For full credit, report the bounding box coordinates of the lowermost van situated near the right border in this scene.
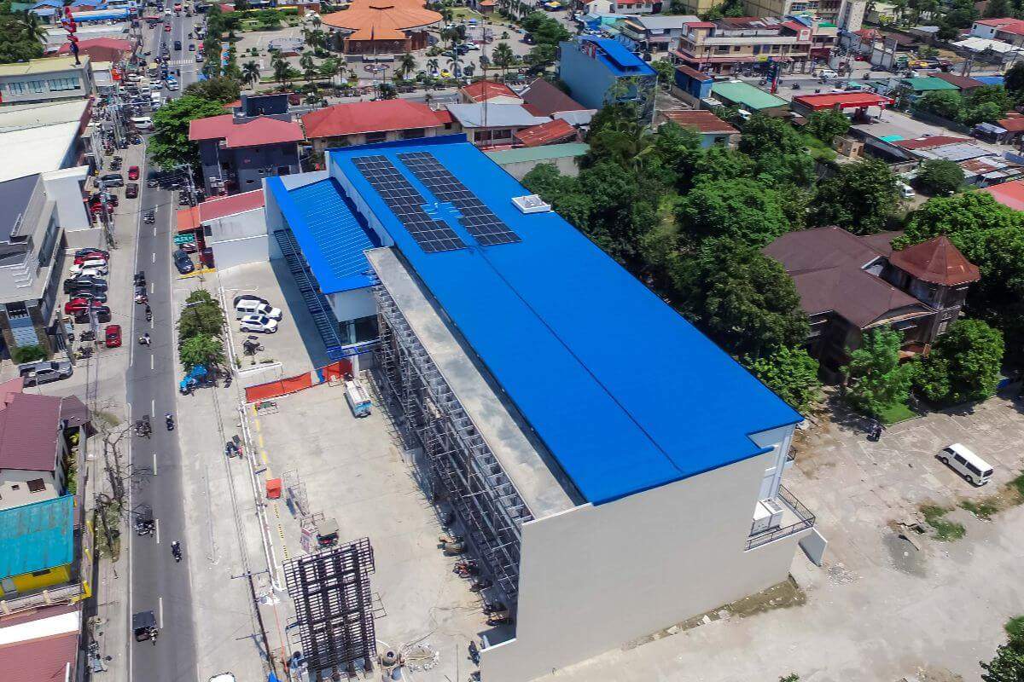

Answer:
[936,448,994,485]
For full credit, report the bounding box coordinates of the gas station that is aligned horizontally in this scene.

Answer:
[789,88,894,133]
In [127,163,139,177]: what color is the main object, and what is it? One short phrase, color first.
red vehicle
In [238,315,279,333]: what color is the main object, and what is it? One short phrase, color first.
white car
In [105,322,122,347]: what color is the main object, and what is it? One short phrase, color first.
red car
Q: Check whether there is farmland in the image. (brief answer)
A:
No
